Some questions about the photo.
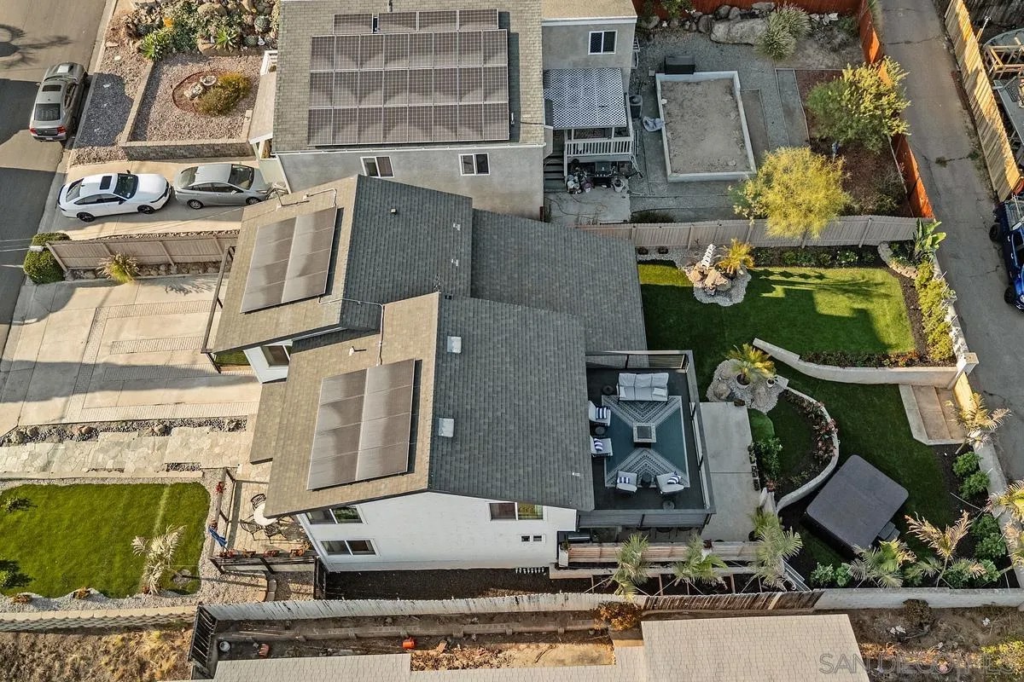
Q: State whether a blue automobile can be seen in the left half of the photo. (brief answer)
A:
No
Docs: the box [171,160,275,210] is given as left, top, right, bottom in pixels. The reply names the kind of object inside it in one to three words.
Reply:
car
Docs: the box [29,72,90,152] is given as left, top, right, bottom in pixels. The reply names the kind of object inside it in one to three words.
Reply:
car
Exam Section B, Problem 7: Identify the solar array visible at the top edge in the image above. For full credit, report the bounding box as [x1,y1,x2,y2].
[306,12,508,143]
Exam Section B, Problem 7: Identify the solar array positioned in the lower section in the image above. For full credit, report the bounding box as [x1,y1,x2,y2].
[309,359,416,489]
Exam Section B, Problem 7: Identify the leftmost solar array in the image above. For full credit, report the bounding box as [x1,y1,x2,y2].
[249,206,339,311]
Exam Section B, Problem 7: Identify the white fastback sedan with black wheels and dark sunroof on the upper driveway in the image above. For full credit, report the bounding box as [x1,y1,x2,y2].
[58,169,171,223]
